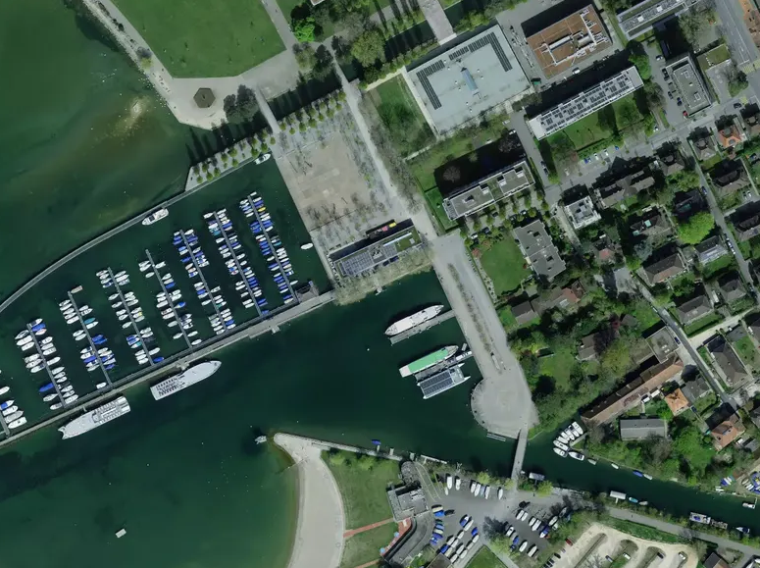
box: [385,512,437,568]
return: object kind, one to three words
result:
building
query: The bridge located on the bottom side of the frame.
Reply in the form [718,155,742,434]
[512,423,530,492]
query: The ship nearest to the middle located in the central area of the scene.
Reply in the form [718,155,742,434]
[385,306,444,333]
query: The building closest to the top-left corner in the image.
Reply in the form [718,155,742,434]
[194,89,215,107]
